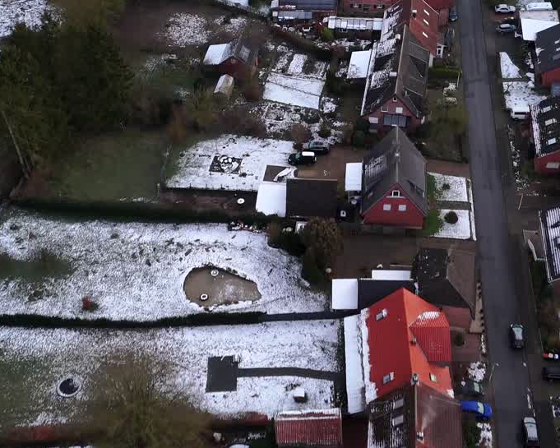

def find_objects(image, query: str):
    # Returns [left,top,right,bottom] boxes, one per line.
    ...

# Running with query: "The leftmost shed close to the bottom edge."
[276,405,343,448]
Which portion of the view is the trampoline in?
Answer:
bottom left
